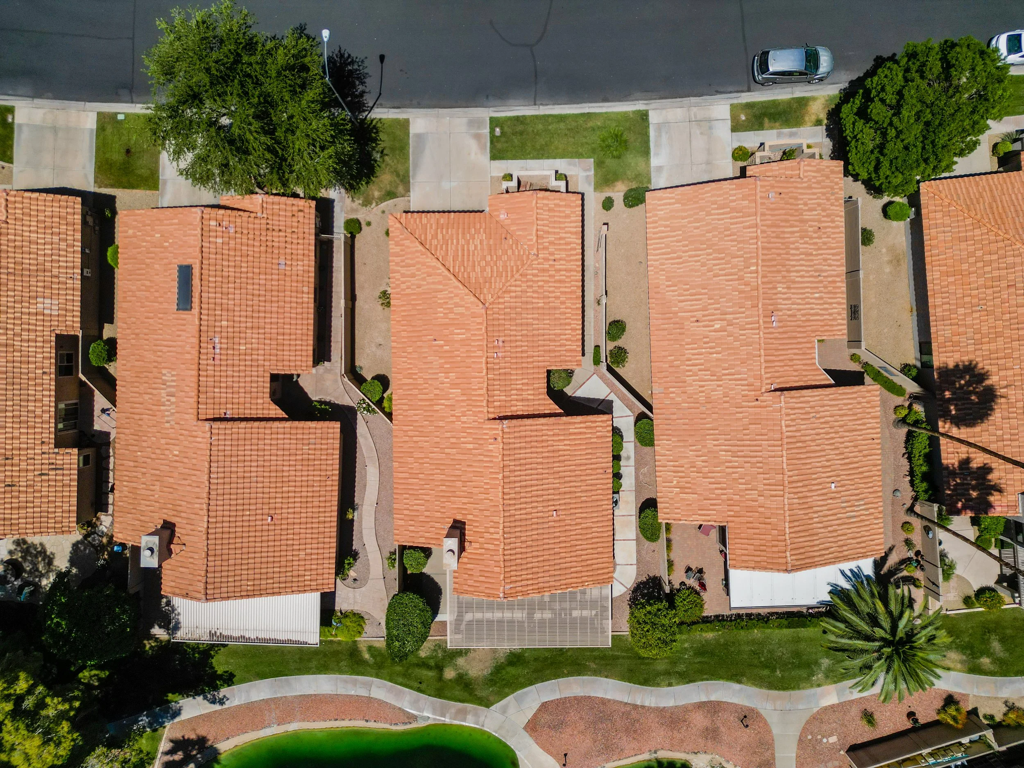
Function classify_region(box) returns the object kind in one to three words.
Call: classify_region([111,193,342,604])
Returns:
house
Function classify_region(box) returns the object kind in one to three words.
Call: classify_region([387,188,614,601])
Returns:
house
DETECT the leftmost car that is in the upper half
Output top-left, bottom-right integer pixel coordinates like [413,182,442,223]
[749,40,836,87]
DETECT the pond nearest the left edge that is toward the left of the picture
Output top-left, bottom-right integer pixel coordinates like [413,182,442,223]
[203,724,517,768]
